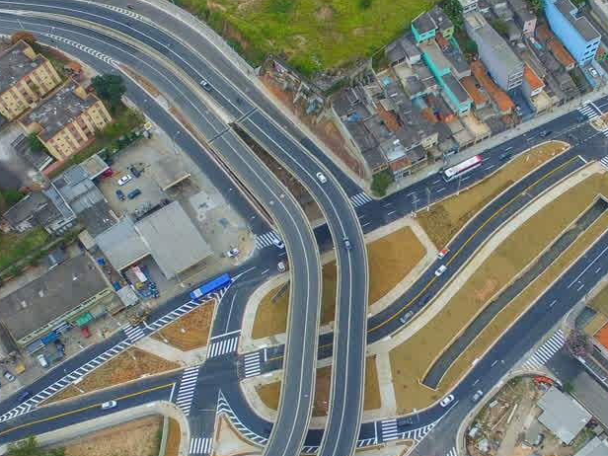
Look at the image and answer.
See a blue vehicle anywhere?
Yes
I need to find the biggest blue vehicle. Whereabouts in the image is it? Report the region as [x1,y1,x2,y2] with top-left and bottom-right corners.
[187,271,232,300]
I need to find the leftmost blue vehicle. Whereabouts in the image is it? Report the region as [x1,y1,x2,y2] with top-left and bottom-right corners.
[14,390,32,404]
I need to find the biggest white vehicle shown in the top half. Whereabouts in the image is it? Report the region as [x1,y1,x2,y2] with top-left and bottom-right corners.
[443,152,483,179]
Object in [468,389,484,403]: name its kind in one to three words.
vehicle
